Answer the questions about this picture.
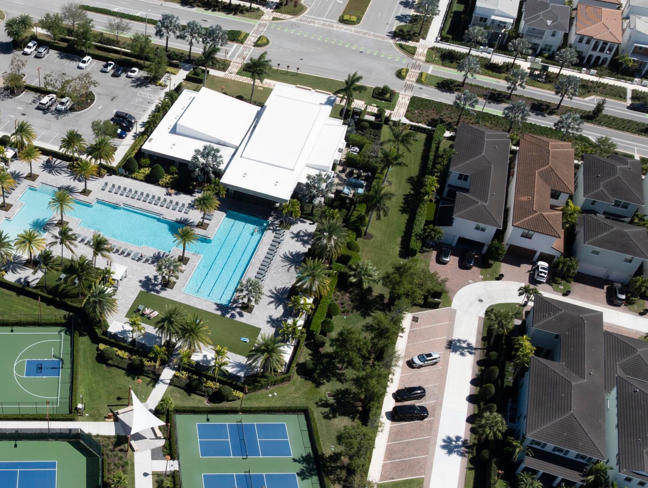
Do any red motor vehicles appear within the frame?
No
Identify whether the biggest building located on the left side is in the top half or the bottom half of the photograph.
top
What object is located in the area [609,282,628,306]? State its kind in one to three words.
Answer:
car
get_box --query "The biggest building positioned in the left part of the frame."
[141,84,347,223]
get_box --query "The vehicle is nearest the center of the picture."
[438,243,454,264]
